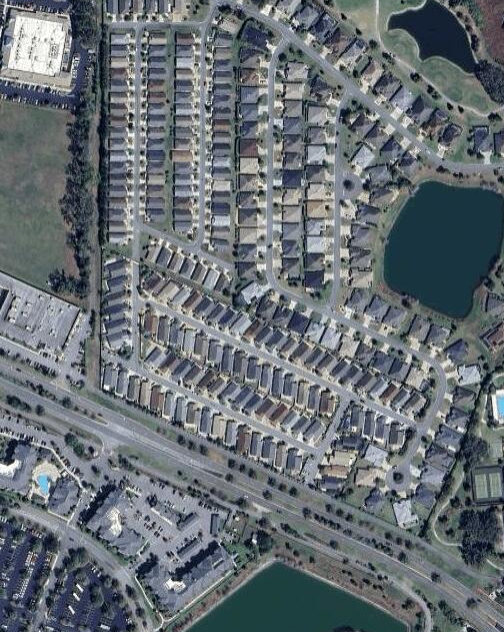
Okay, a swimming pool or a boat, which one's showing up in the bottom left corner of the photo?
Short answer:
swimming pool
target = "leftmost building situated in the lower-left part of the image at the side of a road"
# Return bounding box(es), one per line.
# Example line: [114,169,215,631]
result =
[0,442,33,495]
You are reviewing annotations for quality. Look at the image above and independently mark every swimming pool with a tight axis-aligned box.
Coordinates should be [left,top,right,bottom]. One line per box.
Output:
[492,389,504,424]
[28,461,60,500]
